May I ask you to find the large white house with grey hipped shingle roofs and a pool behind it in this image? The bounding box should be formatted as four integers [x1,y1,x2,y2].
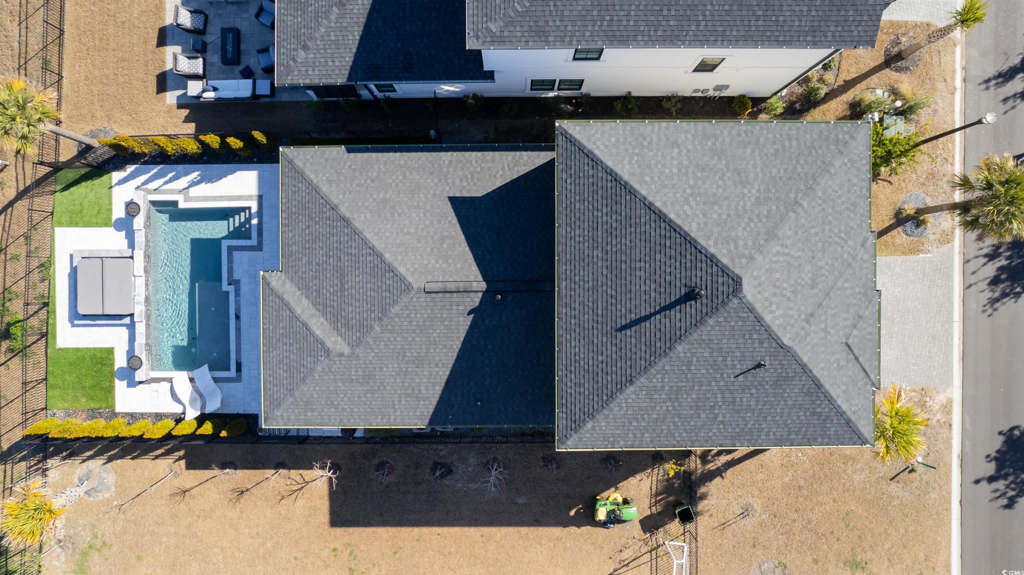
[260,112,880,451]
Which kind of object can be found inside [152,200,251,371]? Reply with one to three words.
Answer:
swimming pool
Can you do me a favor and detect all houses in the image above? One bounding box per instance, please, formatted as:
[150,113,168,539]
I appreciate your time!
[275,0,886,99]
[260,112,880,451]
